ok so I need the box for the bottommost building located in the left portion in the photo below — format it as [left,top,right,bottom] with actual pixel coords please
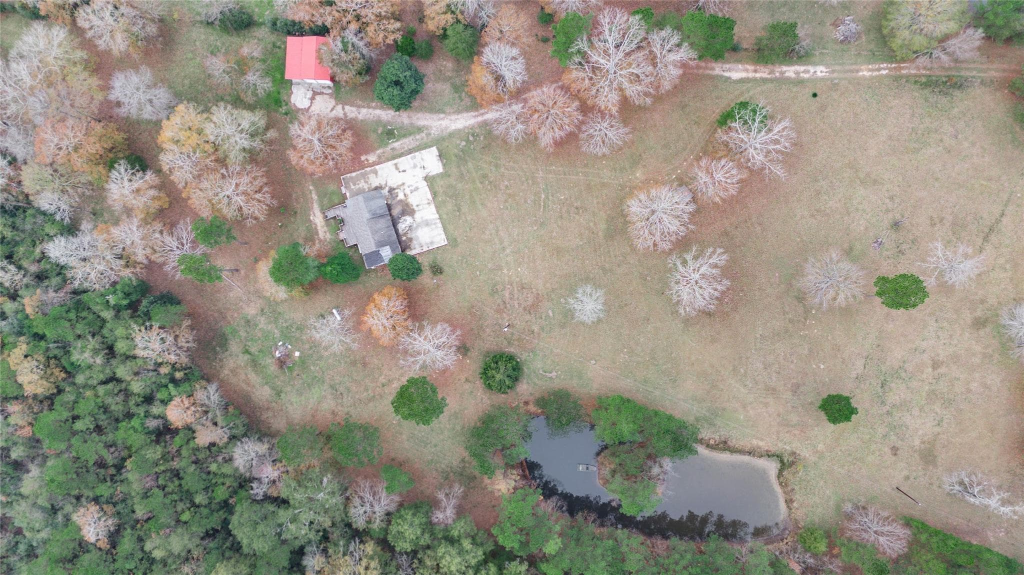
[346,190,401,269]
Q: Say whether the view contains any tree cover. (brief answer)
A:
Yes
